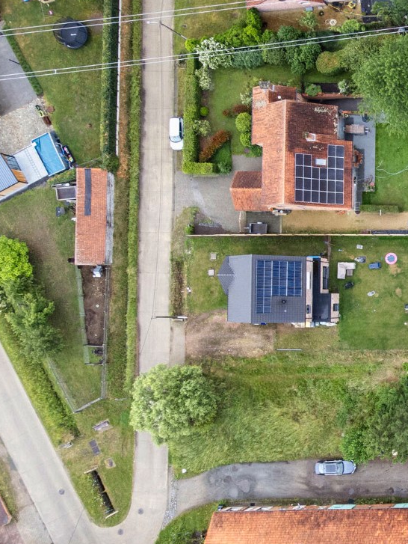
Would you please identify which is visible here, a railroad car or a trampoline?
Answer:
trampoline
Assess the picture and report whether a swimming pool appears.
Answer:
Yes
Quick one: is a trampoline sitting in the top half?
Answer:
Yes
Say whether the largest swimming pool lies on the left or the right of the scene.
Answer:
left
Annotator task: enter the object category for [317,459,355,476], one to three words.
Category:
car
